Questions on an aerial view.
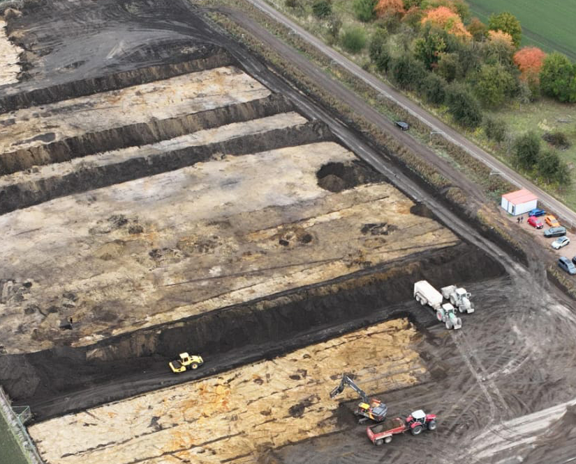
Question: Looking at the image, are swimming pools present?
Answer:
No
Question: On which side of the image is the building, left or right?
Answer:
right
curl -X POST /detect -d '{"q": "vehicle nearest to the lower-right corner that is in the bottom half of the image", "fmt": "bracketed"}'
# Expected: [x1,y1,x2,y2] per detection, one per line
[409,412,441,434]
